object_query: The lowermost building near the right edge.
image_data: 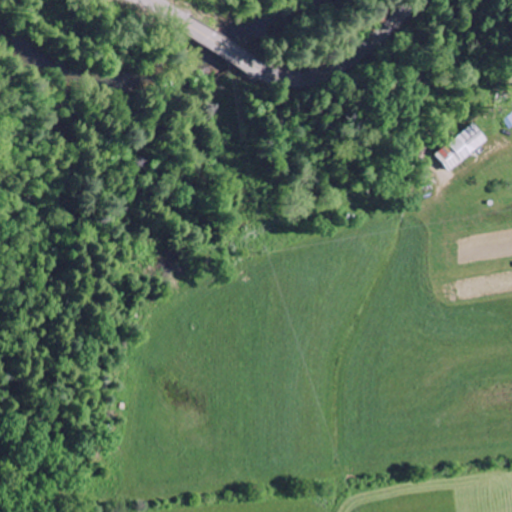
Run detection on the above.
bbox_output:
[436,122,488,171]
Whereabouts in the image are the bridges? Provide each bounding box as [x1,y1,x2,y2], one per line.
[186,18,263,76]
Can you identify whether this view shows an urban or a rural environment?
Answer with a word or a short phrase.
rural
